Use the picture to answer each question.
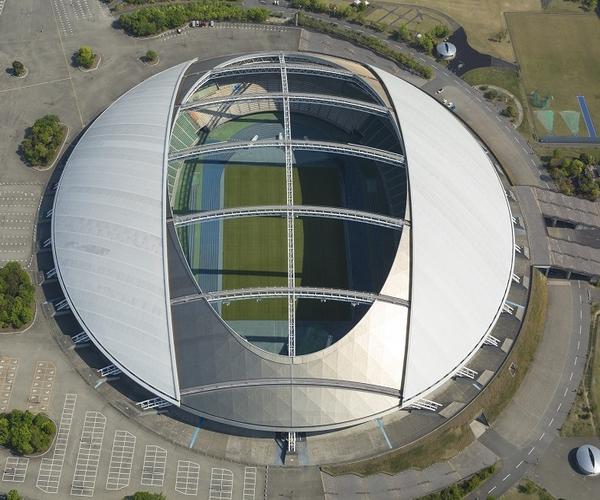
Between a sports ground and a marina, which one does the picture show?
sports ground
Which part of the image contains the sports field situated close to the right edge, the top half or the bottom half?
top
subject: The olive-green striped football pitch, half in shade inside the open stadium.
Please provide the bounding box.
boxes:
[222,138,349,353]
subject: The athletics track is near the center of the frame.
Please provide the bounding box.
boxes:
[200,123,370,351]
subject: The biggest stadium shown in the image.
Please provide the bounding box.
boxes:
[35,47,535,465]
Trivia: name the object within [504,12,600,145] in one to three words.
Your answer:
sports field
